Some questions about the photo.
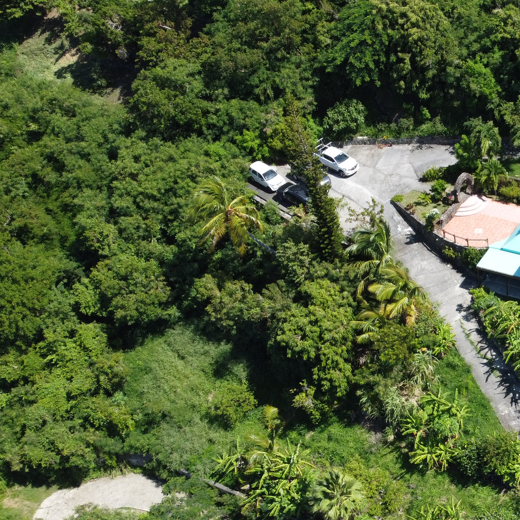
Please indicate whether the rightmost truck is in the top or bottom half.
top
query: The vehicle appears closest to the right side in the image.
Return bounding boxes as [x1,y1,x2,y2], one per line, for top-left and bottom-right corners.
[314,136,361,180]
